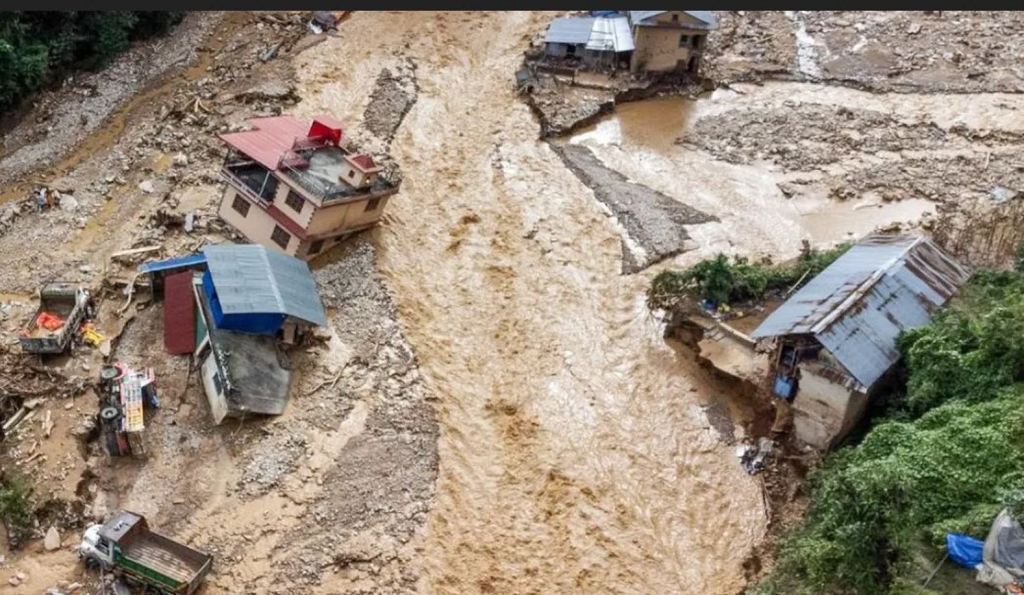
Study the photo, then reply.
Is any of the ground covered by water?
Yes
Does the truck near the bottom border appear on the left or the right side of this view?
left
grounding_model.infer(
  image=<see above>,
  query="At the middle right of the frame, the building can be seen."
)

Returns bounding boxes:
[744,232,963,448]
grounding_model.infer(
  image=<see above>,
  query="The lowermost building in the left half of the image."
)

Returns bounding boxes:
[199,295,291,420]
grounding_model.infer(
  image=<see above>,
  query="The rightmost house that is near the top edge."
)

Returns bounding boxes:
[626,0,717,79]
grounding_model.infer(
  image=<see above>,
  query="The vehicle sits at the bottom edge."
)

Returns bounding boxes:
[79,509,214,595]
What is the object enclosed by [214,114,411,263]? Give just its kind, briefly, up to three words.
house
